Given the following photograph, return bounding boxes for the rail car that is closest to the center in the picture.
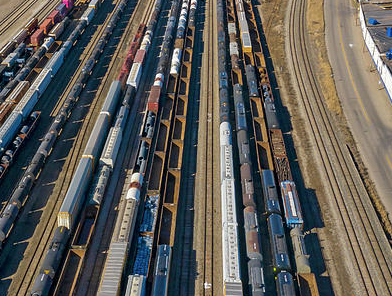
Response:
[219,123,231,148]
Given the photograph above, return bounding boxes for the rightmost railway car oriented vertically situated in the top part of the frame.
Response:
[264,99,280,134]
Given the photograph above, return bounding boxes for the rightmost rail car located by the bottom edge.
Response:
[290,228,316,285]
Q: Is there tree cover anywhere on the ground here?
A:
No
